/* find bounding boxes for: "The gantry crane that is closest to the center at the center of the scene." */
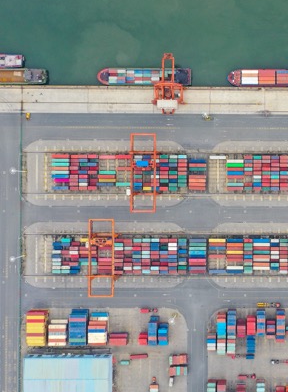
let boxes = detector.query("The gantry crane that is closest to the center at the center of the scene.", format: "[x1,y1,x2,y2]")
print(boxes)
[126,134,164,213]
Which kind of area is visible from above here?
port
